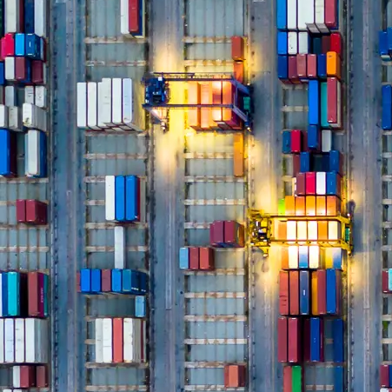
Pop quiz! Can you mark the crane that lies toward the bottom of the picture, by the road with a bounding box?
[242,209,358,266]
